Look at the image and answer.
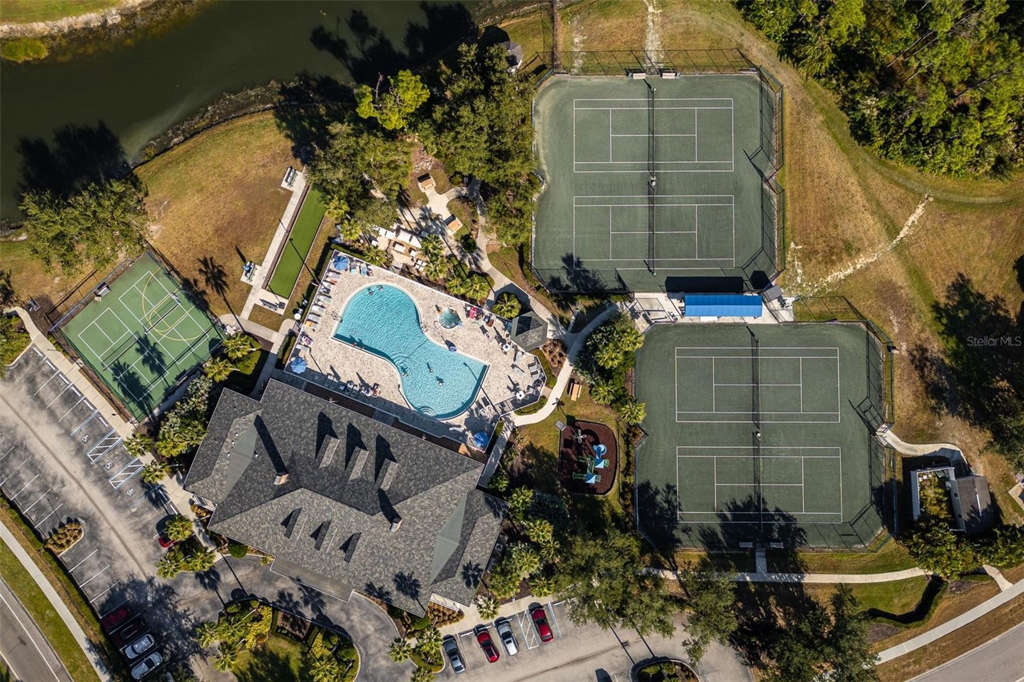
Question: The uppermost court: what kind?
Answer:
tennis court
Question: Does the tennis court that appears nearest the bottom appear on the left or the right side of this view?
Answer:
right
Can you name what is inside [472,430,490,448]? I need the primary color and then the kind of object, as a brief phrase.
blue umbrella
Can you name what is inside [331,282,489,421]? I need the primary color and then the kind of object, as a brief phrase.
blue swimming pool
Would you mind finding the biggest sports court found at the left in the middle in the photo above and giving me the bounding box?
[61,251,222,422]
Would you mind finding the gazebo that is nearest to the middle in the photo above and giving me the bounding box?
[510,311,548,351]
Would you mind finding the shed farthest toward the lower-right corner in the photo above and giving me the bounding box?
[946,475,992,534]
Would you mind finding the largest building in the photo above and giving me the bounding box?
[182,378,510,618]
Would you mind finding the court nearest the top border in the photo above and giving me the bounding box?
[533,72,776,184]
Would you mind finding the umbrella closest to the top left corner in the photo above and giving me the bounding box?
[332,254,350,271]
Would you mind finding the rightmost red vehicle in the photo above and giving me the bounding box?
[531,605,552,641]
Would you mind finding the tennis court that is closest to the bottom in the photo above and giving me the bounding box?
[636,435,888,550]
